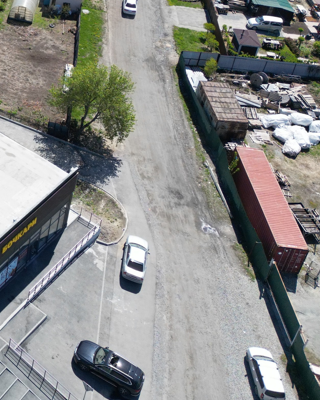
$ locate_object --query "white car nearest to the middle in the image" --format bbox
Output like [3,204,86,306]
[119,238,148,287]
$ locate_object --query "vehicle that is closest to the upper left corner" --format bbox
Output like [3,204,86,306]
[121,0,138,17]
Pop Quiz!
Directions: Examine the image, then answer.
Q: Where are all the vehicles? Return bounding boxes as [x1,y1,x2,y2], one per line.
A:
[121,0,138,17]
[70,344,145,397]
[244,343,287,400]
[244,16,285,34]
[119,238,148,287]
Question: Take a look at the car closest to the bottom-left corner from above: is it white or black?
black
